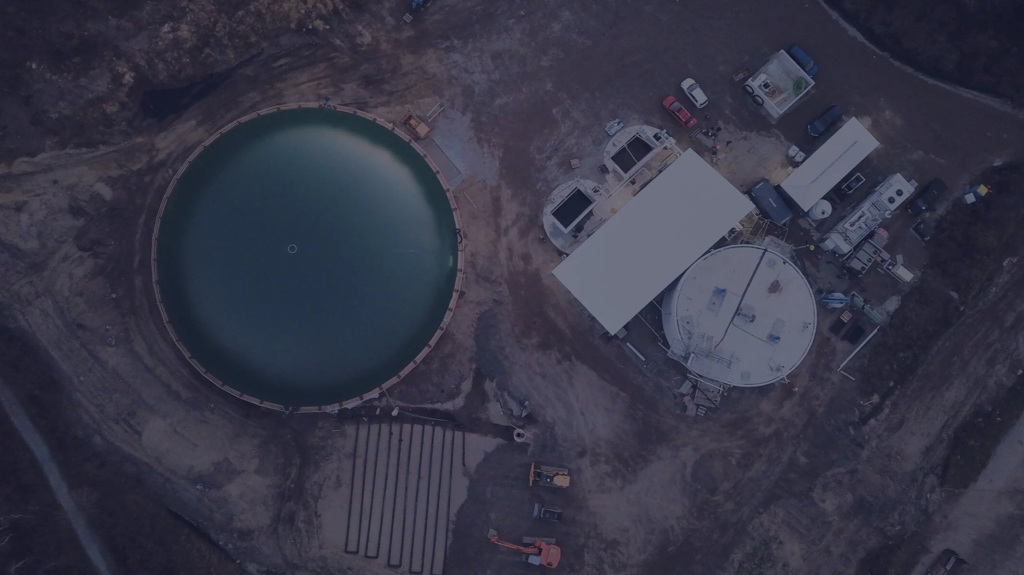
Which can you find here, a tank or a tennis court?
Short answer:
tank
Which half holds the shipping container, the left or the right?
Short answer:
right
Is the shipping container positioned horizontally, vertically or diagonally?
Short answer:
diagonally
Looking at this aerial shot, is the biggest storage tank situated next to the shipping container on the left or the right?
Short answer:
right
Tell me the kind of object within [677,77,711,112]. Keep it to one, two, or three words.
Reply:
car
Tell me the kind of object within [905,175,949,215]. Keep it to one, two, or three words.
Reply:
truck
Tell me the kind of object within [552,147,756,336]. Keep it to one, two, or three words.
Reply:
building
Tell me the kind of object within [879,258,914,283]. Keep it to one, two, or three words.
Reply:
work vehicle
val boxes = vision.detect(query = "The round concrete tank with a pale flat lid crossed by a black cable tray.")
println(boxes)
[662,235,817,387]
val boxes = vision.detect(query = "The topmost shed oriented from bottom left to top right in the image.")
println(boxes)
[773,116,880,211]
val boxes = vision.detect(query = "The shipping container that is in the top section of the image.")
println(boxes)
[811,172,918,259]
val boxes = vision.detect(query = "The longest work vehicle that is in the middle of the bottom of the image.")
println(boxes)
[488,528,561,568]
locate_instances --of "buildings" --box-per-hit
[773,116,880,211]
[552,147,756,336]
